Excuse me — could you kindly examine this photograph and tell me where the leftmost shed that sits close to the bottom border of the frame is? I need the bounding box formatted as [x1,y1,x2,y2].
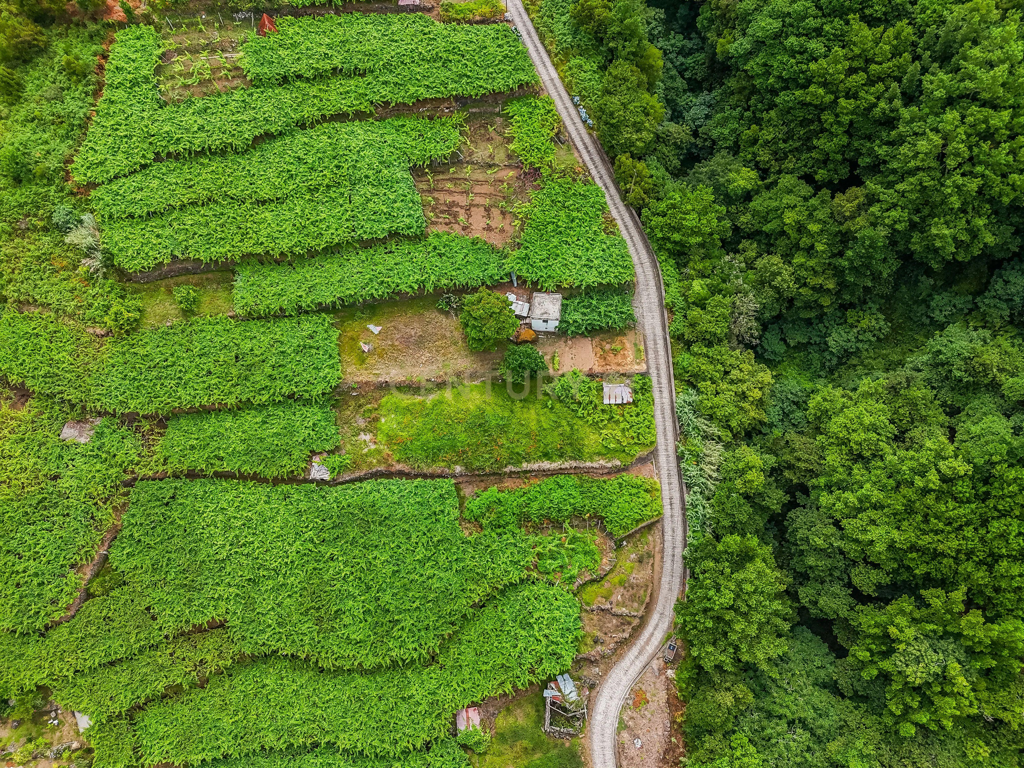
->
[456,706,480,730]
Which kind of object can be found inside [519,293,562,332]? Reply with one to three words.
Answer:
house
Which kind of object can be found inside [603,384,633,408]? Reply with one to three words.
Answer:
shed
